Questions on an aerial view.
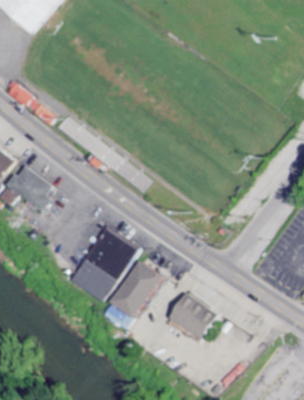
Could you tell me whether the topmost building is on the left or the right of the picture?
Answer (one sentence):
It is on the left.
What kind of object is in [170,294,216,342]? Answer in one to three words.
house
